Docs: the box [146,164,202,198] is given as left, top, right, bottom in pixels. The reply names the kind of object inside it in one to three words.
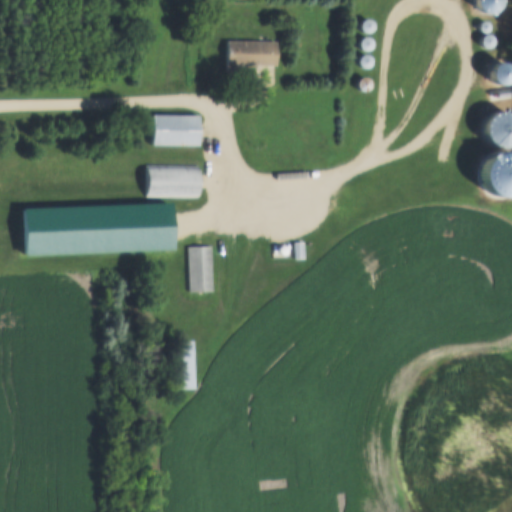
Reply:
shed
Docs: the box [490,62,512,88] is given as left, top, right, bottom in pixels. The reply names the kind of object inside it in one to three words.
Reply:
silo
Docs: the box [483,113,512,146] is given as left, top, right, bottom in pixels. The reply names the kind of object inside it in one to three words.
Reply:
silo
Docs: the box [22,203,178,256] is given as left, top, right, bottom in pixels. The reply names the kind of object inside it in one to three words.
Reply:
building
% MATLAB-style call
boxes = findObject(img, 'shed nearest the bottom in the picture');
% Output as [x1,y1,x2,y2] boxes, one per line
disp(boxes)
[180,340,198,391]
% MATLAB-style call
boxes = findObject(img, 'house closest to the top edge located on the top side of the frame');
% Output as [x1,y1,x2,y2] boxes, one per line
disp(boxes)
[228,41,282,66]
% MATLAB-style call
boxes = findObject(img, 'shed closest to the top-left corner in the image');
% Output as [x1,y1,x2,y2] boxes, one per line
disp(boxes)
[152,115,203,147]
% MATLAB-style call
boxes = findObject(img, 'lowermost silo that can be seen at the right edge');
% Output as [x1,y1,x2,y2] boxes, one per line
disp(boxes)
[481,154,512,198]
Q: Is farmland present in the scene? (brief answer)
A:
Yes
